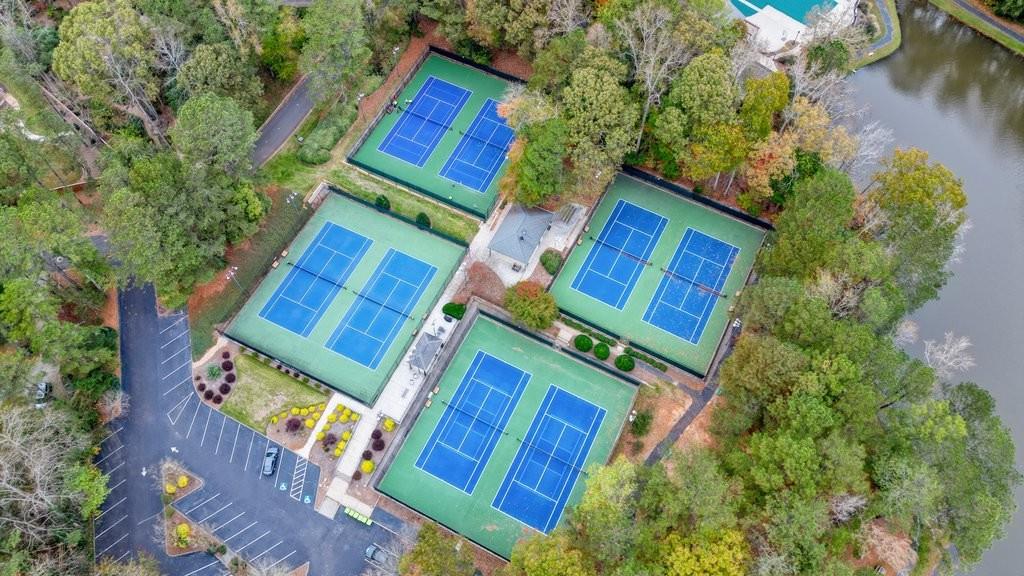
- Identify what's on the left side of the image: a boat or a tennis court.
tennis court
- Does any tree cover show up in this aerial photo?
Yes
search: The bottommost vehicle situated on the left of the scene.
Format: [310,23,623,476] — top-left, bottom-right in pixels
[366,545,395,568]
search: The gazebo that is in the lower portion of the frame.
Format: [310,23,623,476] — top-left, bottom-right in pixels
[410,332,442,374]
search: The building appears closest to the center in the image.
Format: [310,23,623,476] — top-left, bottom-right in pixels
[488,202,553,265]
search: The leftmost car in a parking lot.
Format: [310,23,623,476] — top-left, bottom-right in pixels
[262,447,278,474]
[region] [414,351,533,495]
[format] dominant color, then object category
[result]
blue tennis court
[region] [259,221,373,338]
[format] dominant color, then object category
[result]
blue tennis court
